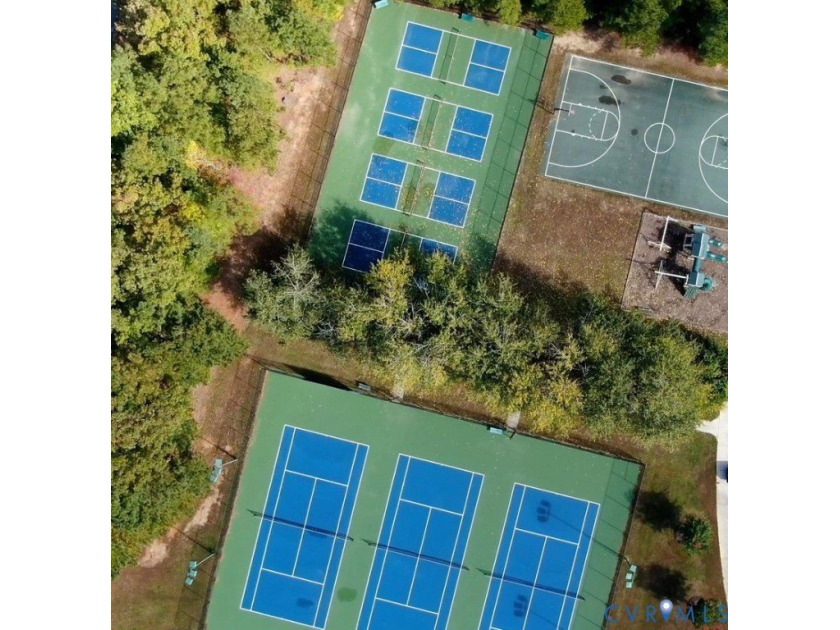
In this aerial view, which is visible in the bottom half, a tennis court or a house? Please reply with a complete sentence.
The one visible in the bottom half is a tennis court.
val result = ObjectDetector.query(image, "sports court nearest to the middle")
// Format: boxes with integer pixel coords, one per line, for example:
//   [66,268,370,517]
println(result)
[345,221,460,291]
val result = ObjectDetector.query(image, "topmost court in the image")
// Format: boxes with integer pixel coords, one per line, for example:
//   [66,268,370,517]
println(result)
[395,21,512,95]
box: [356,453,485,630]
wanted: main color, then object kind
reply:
blue tennis court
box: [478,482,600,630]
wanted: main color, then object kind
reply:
blue tennis court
